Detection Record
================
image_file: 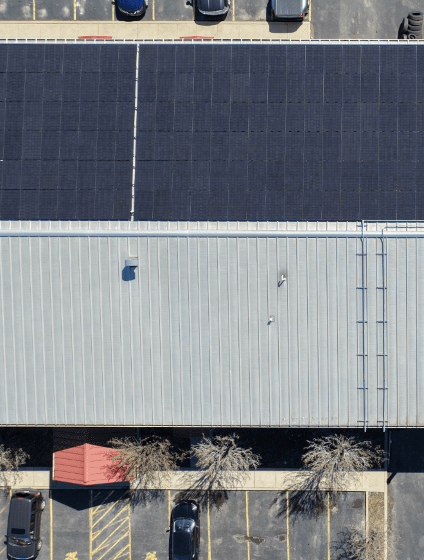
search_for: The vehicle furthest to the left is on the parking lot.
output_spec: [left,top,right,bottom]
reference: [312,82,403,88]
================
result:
[2,484,44,560]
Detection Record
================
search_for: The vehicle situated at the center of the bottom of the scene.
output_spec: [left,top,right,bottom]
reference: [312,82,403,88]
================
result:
[165,499,200,560]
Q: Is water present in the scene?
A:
No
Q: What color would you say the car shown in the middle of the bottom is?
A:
black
